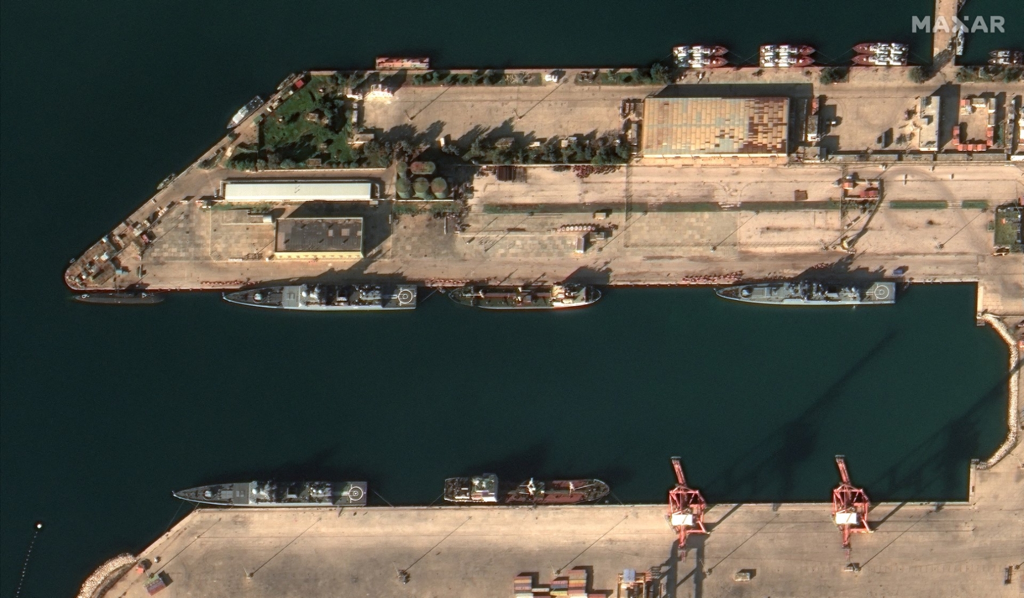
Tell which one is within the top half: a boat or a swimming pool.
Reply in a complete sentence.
It is a boat that can be seen within the top half.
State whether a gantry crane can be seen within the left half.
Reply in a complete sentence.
No, I can find no gantry crane within the left half.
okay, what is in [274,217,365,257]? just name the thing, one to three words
building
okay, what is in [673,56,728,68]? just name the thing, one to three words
boat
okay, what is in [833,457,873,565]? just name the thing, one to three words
container crane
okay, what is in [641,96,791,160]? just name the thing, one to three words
building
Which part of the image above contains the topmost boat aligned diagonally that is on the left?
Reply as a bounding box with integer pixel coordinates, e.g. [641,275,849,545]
[275,71,300,92]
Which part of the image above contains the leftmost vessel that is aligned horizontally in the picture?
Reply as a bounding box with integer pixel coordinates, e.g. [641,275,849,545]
[76,290,162,303]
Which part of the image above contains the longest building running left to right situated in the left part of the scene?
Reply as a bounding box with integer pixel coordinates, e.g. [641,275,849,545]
[225,184,372,200]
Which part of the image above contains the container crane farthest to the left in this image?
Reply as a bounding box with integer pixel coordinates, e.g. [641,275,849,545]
[618,570,652,598]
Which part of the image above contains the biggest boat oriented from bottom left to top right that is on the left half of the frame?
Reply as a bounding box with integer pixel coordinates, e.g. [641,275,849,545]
[228,94,267,130]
